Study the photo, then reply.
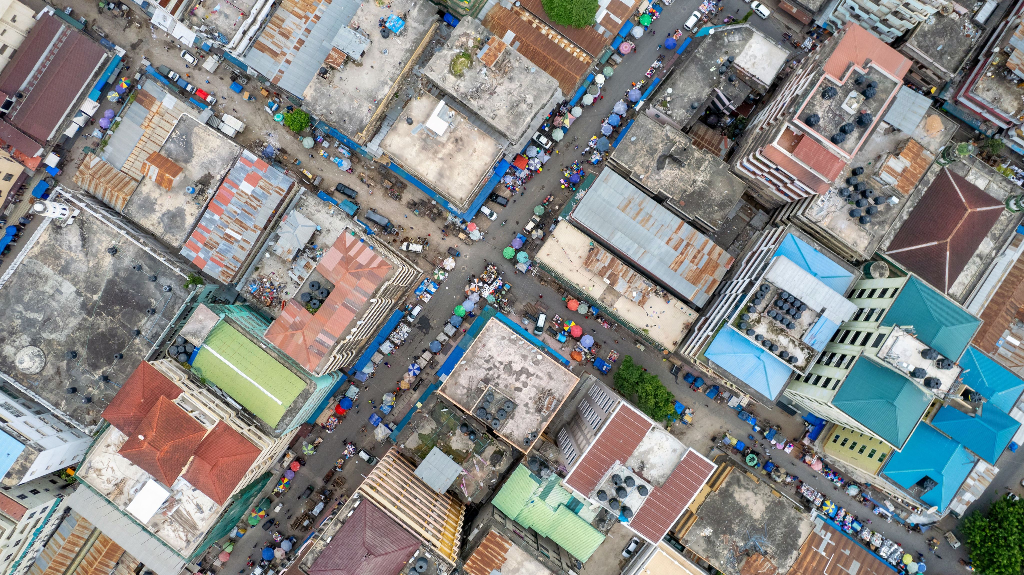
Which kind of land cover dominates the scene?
buildings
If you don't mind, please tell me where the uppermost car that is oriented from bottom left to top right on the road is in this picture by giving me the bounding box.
[683,11,701,32]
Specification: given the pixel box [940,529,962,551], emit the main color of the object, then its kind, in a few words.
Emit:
gray truck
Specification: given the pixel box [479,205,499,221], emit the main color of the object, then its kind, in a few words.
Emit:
white car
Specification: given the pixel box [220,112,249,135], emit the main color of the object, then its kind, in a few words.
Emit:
white truck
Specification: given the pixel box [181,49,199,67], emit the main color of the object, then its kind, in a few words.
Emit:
white car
